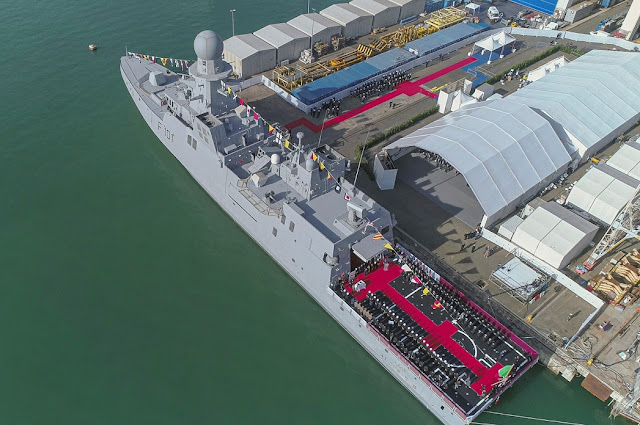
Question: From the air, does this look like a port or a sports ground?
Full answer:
This image shows a port.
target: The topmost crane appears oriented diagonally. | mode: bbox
[570,159,640,278]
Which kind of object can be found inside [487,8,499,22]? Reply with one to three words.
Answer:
vehicle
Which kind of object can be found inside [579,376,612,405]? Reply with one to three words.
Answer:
pier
